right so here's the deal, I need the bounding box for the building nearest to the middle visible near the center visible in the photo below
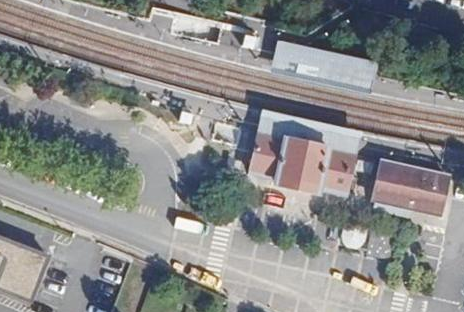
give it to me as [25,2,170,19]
[208,118,244,148]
